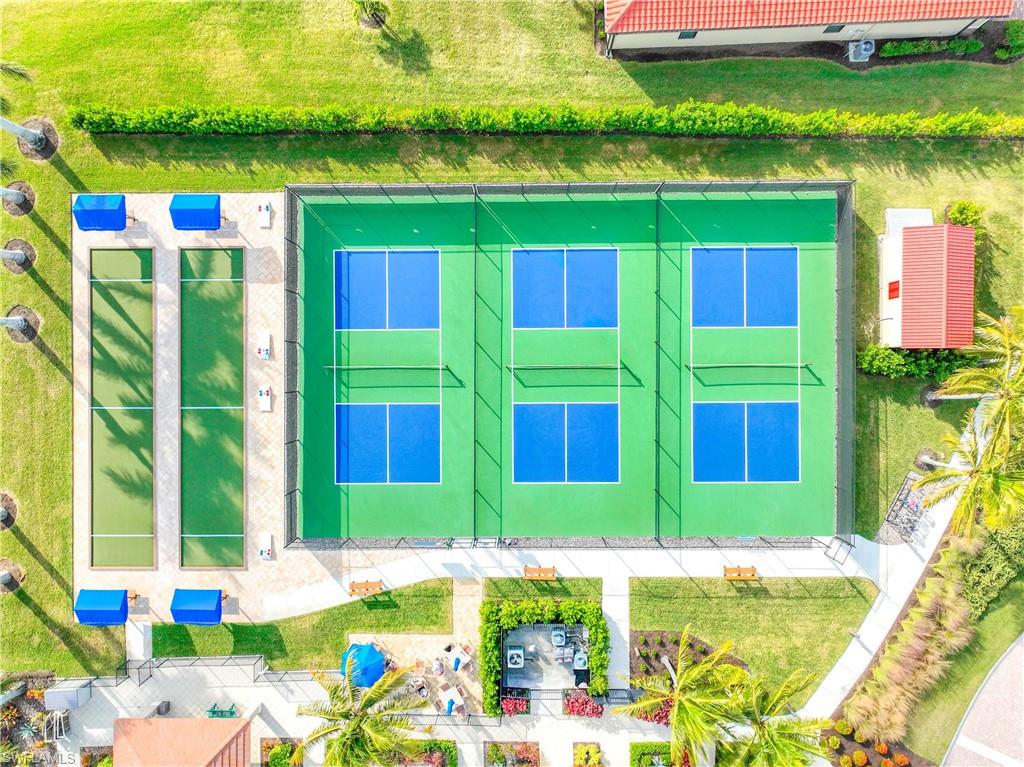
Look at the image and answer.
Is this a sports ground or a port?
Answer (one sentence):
The picture captures a sports ground.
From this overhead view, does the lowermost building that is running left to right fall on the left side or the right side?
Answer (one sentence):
The lowermost building that is running left to right is on the left side of the image.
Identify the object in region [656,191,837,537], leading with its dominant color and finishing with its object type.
green sports court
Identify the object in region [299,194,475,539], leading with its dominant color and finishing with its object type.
green sports court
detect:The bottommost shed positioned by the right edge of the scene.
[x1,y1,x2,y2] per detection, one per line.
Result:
[879,223,975,348]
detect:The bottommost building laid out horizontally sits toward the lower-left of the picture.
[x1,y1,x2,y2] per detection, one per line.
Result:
[111,697,266,767]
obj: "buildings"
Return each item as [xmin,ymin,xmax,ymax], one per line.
[879,223,975,348]
[603,0,1016,57]
[111,697,266,767]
